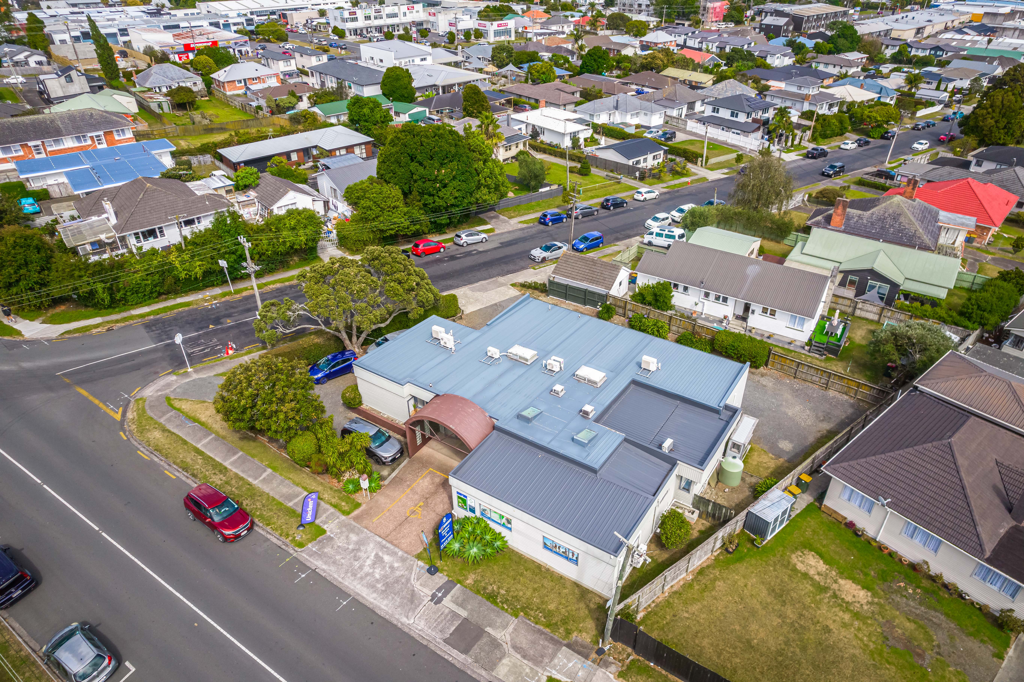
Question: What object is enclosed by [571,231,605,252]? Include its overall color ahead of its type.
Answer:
blue car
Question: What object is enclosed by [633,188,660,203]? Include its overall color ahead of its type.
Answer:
white car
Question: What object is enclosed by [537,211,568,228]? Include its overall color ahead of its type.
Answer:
blue car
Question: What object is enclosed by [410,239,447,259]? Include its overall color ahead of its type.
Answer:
red car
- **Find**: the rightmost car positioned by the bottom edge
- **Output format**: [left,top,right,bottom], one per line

[42,624,121,682]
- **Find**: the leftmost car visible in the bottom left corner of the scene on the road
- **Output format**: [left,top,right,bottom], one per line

[0,547,34,611]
